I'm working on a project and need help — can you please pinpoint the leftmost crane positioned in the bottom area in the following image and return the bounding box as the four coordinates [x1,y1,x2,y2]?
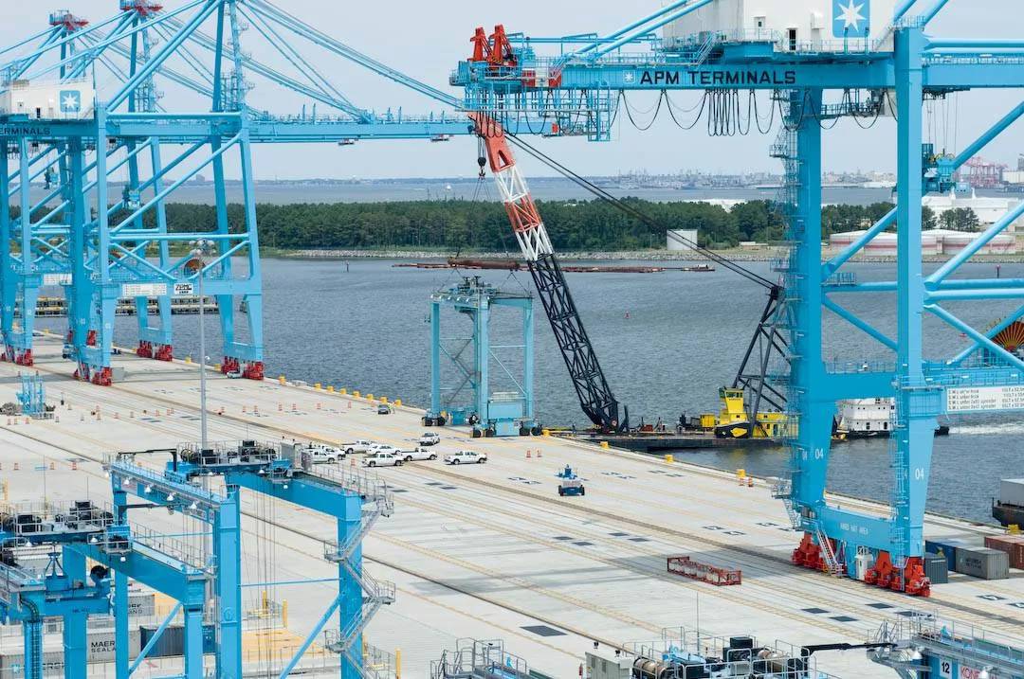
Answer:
[0,451,217,679]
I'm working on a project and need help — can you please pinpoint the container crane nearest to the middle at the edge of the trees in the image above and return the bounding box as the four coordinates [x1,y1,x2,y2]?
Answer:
[409,273,542,437]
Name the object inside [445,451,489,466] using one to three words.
vehicle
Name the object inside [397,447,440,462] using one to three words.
vehicle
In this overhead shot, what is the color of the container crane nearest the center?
blue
